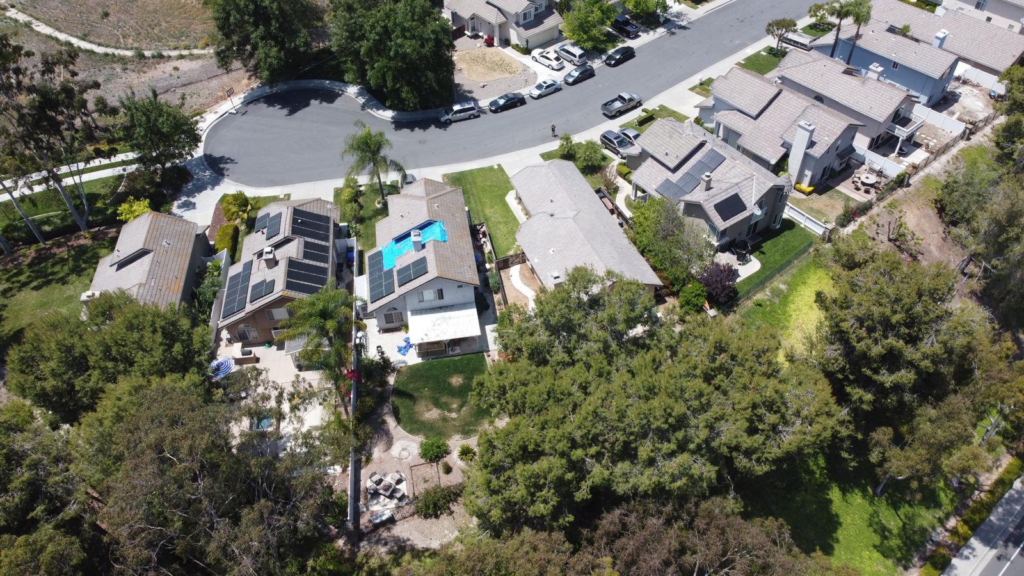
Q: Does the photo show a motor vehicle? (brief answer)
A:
Yes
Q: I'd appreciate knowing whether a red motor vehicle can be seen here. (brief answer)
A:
No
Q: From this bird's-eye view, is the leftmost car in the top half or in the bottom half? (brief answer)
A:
top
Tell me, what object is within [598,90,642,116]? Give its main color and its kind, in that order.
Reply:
gray truck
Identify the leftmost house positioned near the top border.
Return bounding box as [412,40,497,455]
[444,0,561,55]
